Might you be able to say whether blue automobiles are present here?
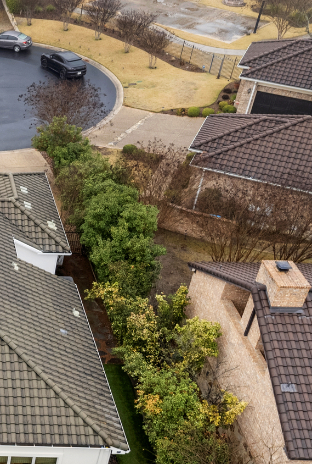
No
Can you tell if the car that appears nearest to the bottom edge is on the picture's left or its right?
left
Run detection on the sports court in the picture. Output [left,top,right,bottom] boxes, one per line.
[96,0,273,43]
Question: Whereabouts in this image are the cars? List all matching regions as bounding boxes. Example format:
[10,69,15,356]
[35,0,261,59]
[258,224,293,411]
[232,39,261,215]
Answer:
[39,52,88,81]
[0,30,33,55]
